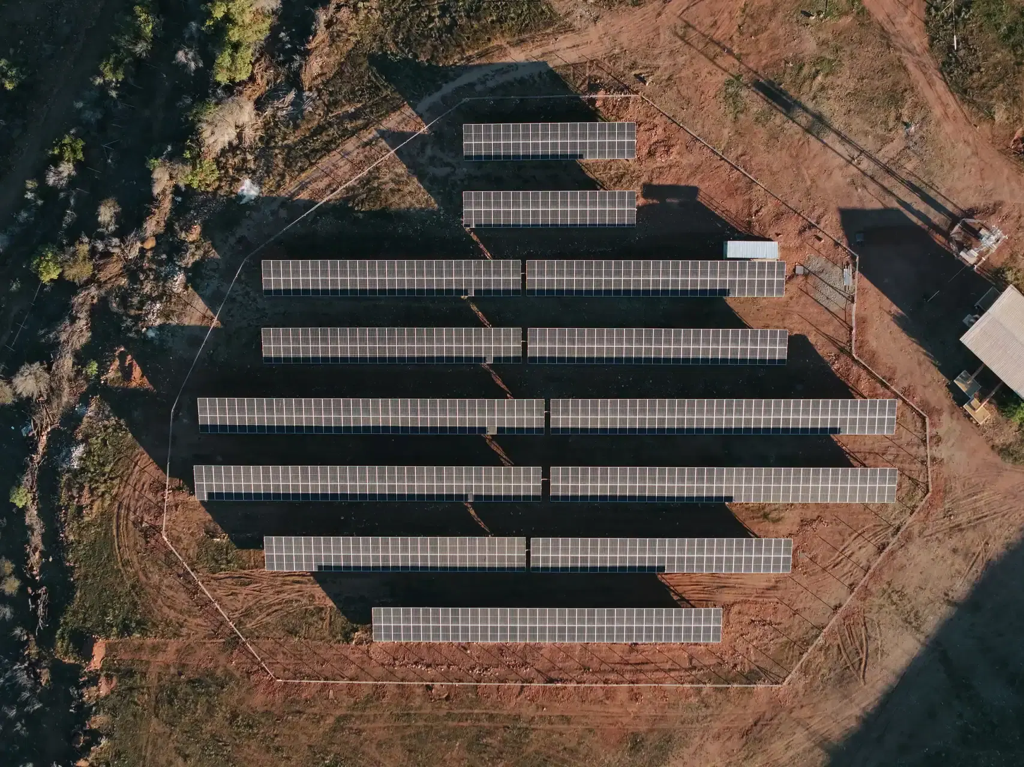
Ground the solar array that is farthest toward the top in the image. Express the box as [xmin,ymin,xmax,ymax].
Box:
[463,122,636,160]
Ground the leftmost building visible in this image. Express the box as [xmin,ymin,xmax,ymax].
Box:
[720,241,778,261]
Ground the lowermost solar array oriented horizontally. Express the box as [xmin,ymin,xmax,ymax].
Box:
[372,608,722,643]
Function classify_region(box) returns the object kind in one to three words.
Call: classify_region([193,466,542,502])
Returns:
solar array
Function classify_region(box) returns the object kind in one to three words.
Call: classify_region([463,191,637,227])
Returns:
solar array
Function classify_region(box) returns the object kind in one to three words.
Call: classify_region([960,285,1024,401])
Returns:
building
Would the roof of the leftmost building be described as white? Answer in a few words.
Yes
